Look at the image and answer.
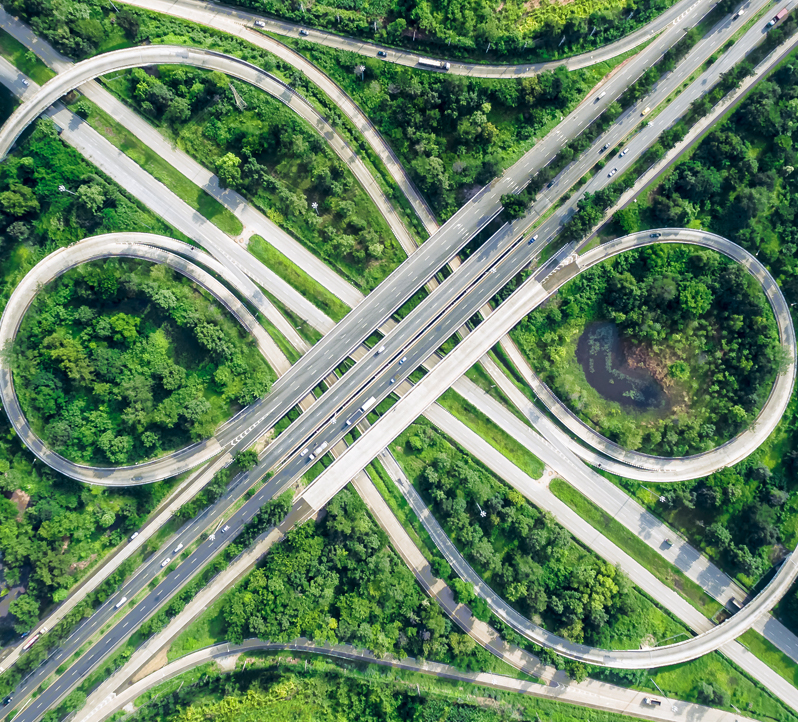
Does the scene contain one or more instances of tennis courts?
No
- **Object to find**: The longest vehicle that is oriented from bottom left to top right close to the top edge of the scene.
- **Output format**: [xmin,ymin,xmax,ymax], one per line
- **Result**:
[768,5,790,25]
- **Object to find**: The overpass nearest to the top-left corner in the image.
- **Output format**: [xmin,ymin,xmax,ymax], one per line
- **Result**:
[0,51,112,172]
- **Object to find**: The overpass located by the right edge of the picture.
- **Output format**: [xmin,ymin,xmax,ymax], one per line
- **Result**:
[689,541,798,660]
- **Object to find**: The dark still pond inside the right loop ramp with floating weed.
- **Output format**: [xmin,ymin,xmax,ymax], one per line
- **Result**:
[574,320,669,409]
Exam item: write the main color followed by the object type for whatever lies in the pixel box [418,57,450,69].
white vehicle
